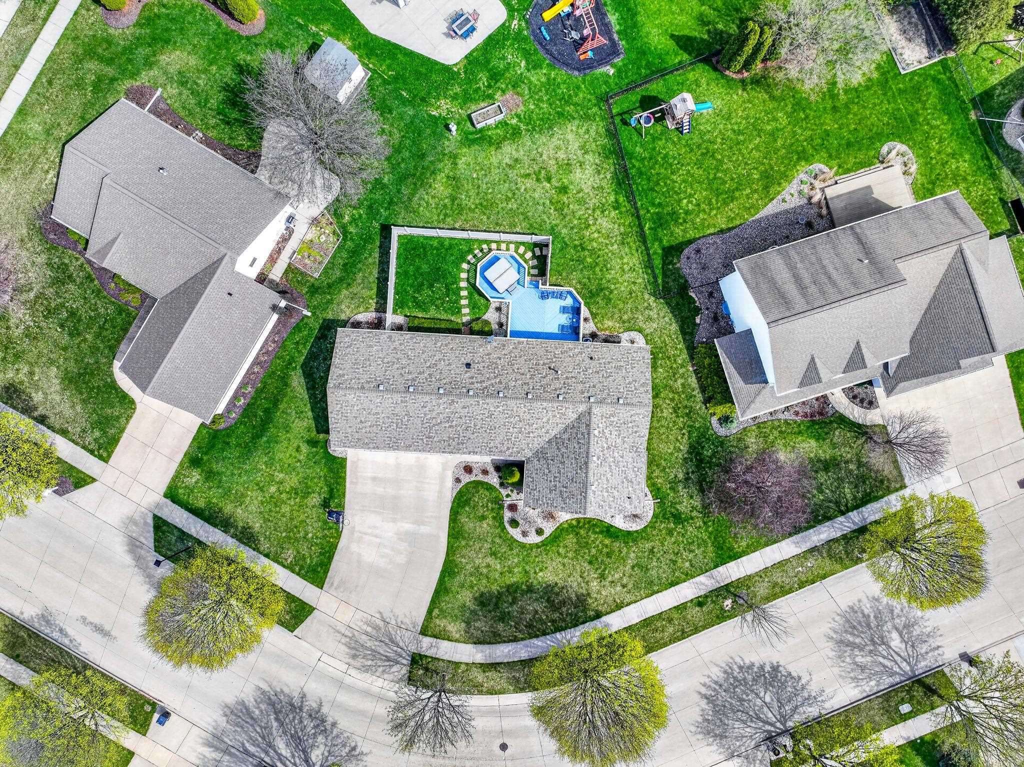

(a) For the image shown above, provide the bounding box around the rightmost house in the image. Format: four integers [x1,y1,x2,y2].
[711,190,1024,422]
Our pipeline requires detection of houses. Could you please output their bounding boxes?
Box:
[51,97,297,424]
[711,190,1024,422]
[327,327,653,515]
